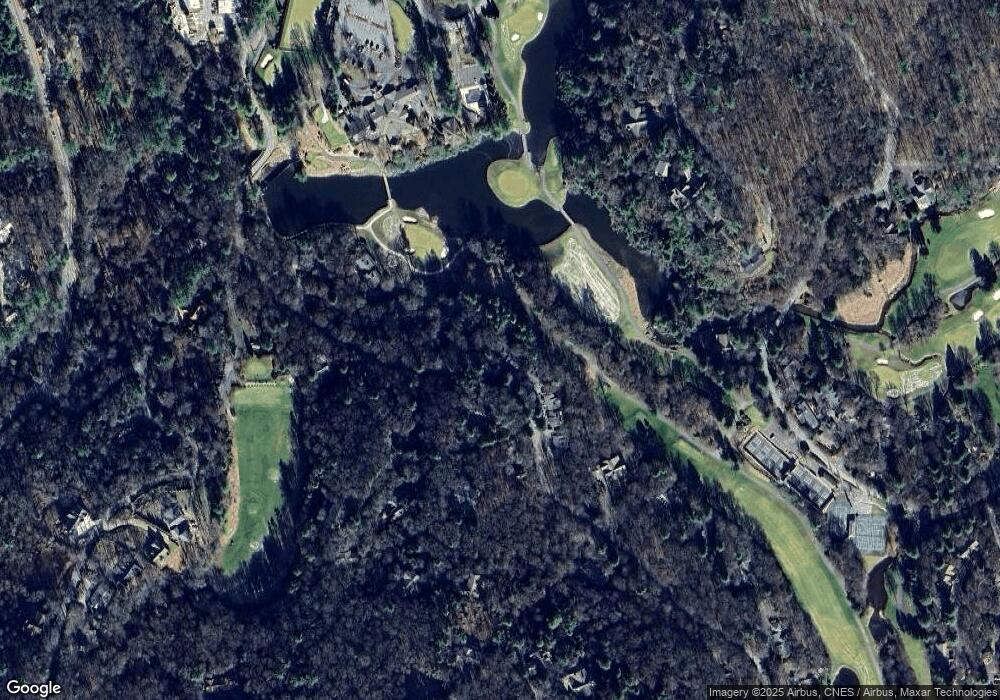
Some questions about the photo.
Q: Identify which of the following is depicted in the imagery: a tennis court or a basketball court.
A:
tennis court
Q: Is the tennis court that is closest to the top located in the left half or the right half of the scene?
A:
right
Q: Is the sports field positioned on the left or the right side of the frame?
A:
left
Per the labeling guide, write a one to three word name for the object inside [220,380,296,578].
sports field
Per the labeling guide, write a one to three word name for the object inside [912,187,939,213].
house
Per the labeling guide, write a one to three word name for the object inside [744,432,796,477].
tennis court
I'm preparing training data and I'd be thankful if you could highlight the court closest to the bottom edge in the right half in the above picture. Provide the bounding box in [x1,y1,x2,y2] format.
[856,515,888,554]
